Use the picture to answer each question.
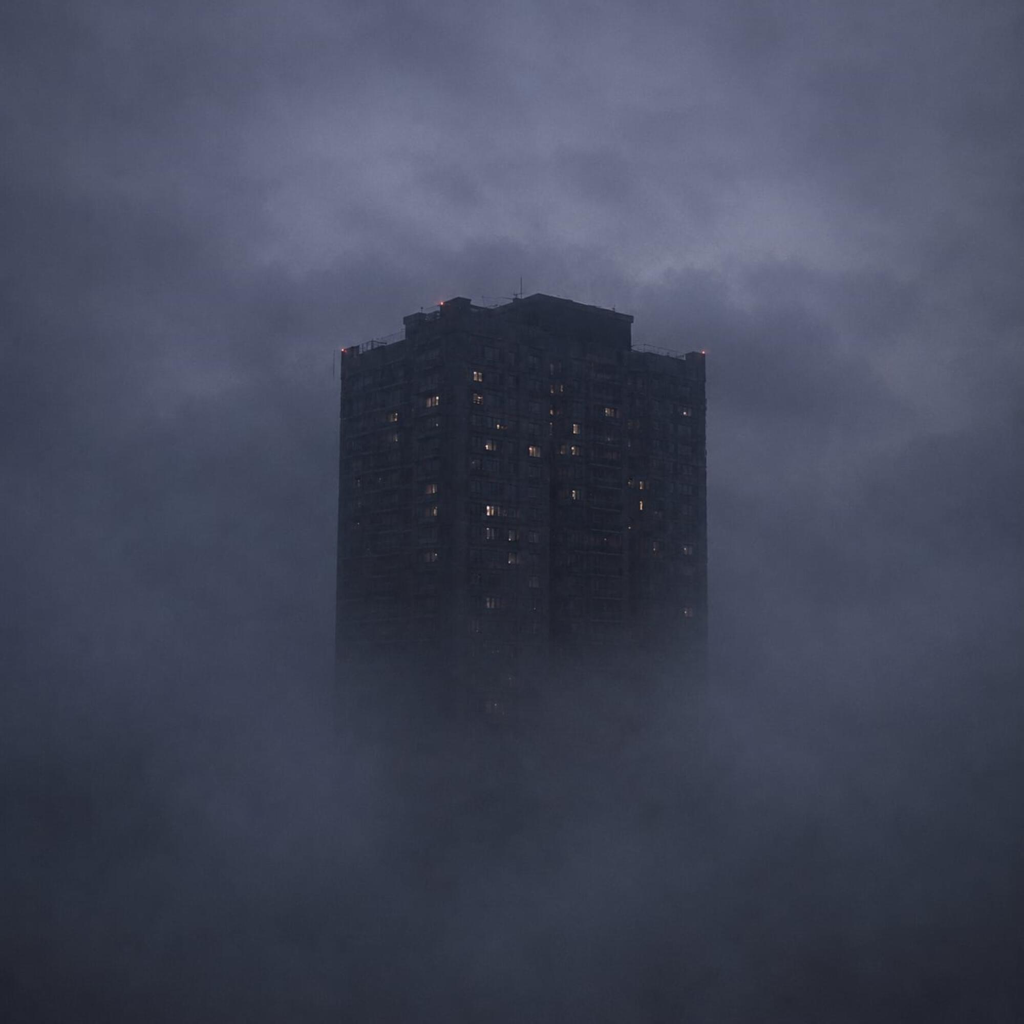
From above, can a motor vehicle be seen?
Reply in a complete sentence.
No, the scene contains no motor vehicle.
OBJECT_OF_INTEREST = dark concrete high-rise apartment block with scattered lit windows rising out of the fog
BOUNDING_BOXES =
[331,293,712,1014]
